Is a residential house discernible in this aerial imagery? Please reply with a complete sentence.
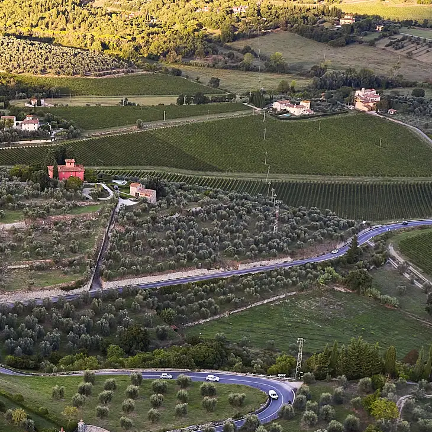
Yes, looking at the shot, I can spot a residential house.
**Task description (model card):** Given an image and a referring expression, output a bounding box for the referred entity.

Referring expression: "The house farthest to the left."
[0,110,39,133]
